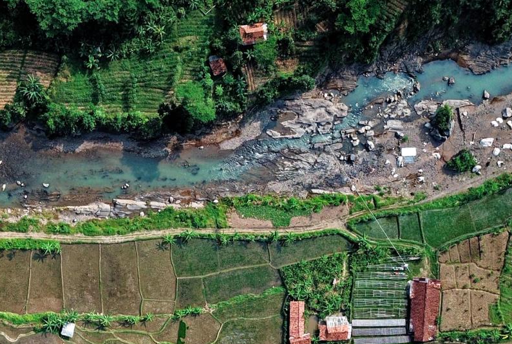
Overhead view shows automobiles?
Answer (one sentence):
No, I find no automobile anywhere in the image.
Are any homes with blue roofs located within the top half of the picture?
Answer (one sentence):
No, there's no home with a blue roof to be seen within the top half of the picture.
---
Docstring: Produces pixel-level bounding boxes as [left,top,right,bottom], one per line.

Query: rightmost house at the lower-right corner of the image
[403,276,438,343]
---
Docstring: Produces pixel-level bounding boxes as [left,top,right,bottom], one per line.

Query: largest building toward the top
[237,22,268,51]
